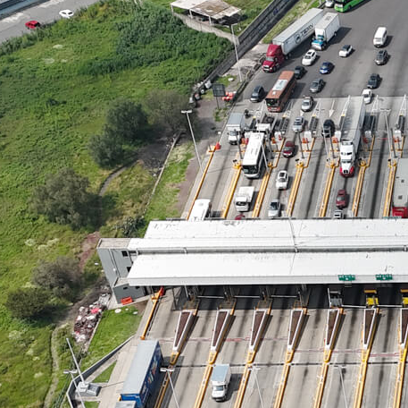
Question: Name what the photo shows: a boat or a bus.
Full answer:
This aerial view contains a bus.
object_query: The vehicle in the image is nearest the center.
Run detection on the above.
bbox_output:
[190,197,217,218]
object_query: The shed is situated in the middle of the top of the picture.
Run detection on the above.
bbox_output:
[167,0,240,28]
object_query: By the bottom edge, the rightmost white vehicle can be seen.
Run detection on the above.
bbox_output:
[209,362,234,402]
